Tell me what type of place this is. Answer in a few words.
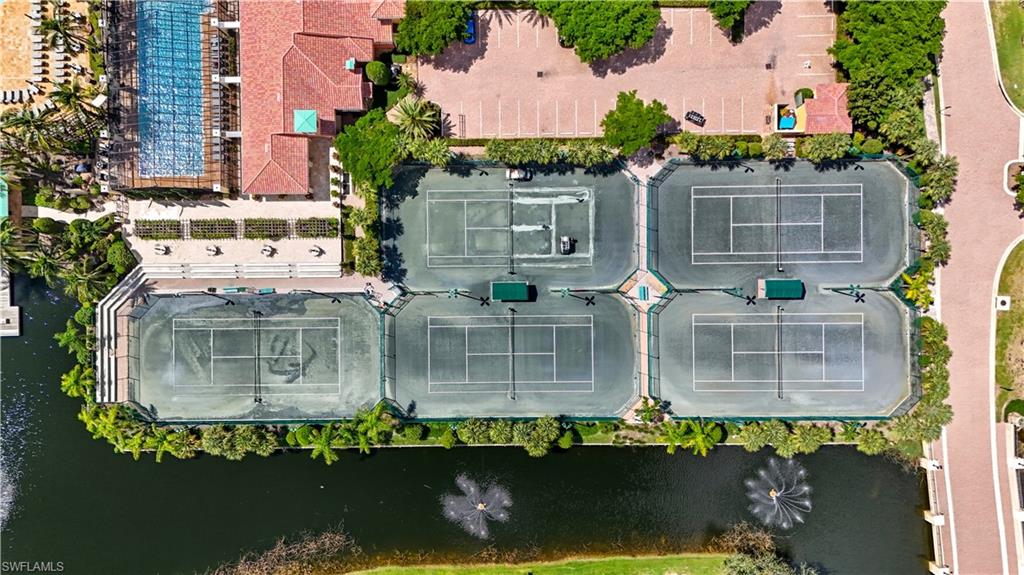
sports ground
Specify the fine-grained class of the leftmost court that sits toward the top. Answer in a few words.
tennis court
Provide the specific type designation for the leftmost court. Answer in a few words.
tennis court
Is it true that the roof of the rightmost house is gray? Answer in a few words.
No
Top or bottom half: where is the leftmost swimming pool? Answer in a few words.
top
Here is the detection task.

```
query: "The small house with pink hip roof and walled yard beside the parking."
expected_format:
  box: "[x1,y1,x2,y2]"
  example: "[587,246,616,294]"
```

[792,82,853,136]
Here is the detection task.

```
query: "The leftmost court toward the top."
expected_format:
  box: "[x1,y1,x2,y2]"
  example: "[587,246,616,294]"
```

[380,163,638,292]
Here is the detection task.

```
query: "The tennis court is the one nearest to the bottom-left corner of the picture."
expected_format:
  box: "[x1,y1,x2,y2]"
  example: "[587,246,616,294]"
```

[128,293,377,419]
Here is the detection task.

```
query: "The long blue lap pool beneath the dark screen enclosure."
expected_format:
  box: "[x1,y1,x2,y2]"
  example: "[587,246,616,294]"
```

[136,0,208,179]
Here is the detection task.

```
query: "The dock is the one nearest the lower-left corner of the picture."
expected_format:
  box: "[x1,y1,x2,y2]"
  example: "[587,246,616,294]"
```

[0,277,22,333]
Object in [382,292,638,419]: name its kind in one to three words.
tennis court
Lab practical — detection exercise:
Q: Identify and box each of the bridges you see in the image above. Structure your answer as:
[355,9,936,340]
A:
[920,422,1024,575]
